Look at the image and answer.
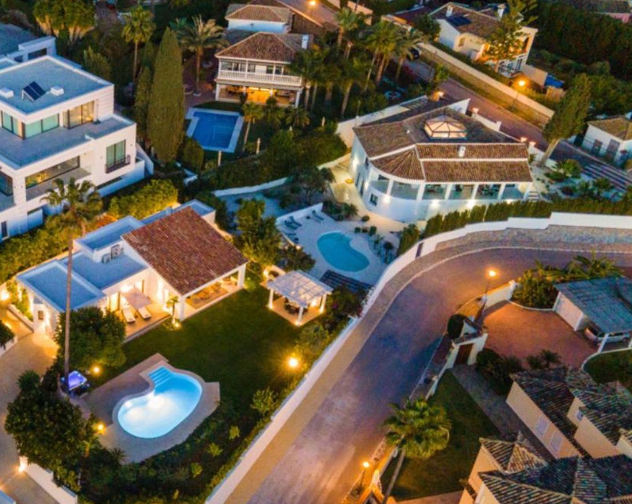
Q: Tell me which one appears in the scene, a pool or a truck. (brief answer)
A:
pool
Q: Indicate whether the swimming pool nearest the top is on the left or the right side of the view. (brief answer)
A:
left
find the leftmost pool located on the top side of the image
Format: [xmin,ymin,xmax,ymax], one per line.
[193,112,237,148]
